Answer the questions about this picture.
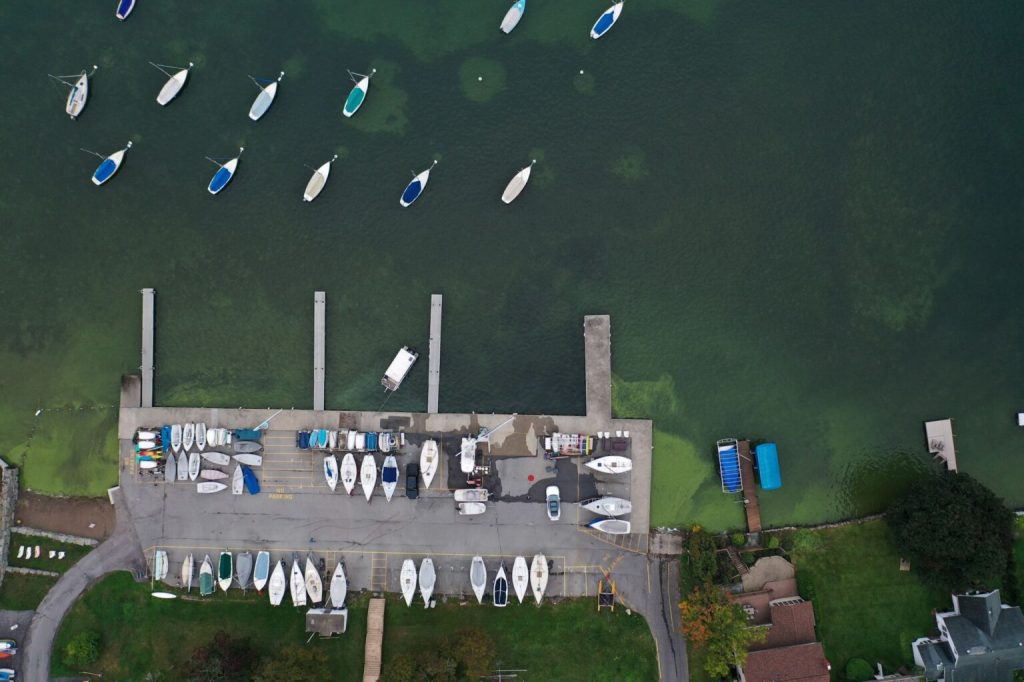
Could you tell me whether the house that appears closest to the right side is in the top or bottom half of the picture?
bottom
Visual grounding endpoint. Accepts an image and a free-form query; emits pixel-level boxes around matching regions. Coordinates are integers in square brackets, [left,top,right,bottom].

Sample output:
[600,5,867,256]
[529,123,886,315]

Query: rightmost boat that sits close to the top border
[589,0,623,41]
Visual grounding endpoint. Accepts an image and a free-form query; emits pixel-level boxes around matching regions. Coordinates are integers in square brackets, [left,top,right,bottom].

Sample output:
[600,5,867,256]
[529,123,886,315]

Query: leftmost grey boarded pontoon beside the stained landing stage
[140,288,158,407]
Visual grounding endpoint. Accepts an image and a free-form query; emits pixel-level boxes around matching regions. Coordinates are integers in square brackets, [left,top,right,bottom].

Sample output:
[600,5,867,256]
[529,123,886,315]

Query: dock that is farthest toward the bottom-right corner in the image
[926,418,959,475]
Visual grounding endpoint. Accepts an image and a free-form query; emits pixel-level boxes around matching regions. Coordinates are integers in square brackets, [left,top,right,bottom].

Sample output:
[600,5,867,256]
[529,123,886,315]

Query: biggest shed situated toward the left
[306,607,349,633]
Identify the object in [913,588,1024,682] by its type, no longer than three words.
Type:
house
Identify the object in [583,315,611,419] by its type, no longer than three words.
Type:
pier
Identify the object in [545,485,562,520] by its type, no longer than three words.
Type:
car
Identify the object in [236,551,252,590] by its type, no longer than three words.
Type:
boat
